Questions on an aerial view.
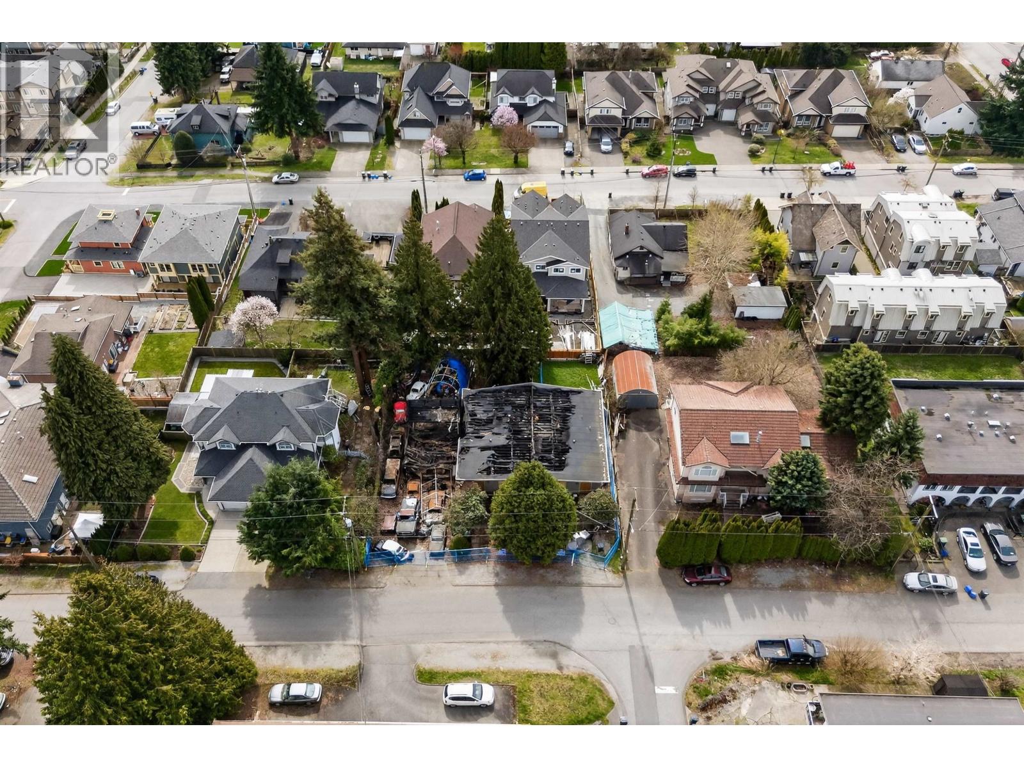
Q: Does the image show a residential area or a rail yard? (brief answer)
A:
residential area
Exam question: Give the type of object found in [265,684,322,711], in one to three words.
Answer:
car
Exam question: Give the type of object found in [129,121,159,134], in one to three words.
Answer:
vehicle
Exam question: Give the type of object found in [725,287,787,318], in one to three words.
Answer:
shed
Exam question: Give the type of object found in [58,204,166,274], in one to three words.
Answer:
house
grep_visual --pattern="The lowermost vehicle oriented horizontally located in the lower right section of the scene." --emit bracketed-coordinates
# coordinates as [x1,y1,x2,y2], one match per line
[758,639,827,667]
